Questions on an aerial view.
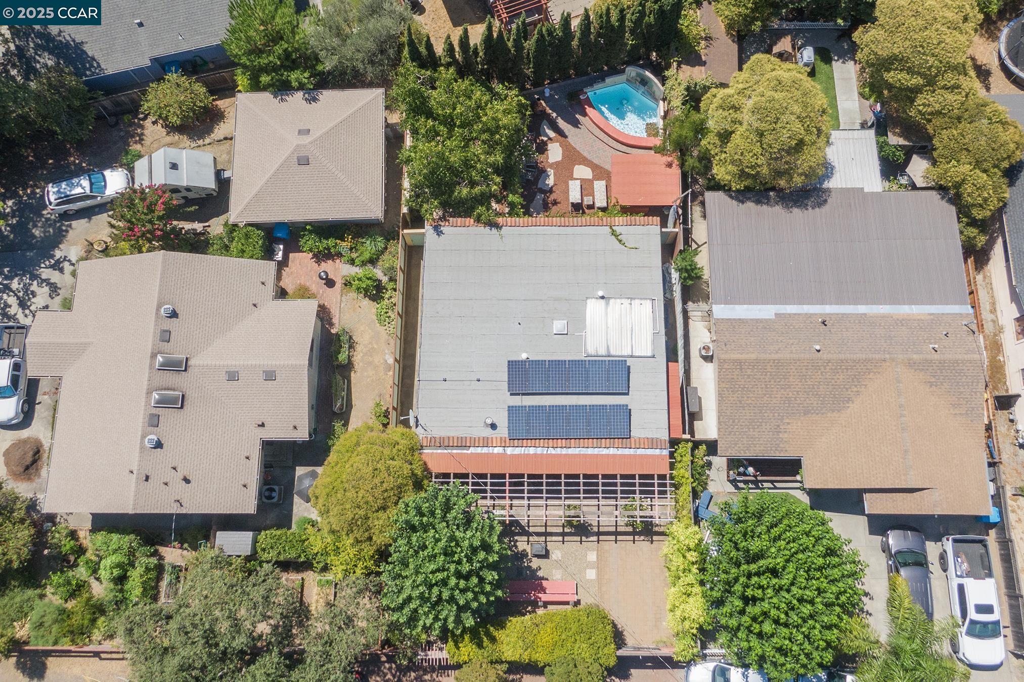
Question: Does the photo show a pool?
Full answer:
Yes, a pool can be made out from above.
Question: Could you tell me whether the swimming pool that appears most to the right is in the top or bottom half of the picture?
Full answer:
The top half of the photo is where the swimming pool that appears most to the right is.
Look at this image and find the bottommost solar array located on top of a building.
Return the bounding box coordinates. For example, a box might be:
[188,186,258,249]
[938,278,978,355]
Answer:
[507,405,631,438]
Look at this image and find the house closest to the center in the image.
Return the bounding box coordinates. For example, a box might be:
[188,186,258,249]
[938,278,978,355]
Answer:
[413,217,683,474]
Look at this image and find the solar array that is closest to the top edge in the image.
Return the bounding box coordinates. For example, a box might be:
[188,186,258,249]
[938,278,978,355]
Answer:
[507,360,629,393]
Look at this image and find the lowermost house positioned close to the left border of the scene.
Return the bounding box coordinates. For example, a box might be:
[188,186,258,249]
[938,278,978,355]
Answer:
[25,251,324,515]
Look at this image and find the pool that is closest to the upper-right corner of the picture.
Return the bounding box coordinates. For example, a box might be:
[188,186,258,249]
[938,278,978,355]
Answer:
[570,63,667,154]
